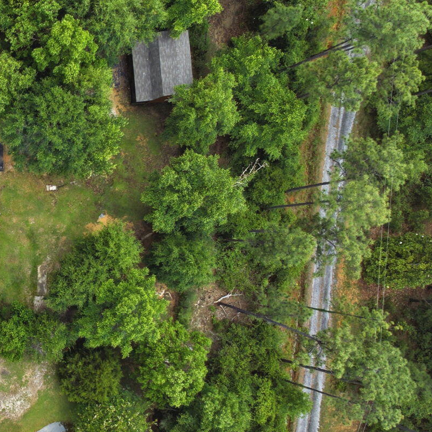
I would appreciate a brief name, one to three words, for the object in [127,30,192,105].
shed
